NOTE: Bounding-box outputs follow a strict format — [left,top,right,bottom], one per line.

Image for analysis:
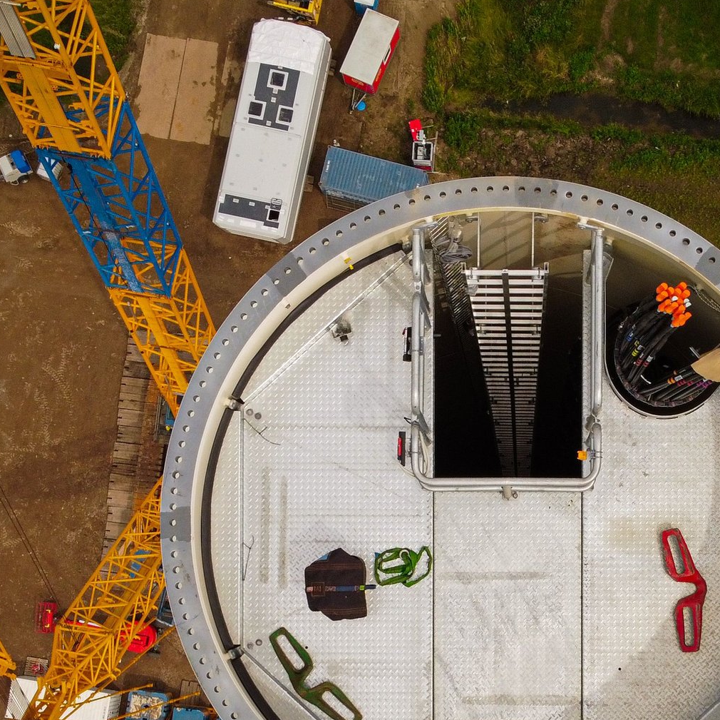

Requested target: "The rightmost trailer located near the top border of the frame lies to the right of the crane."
[339,9,400,116]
